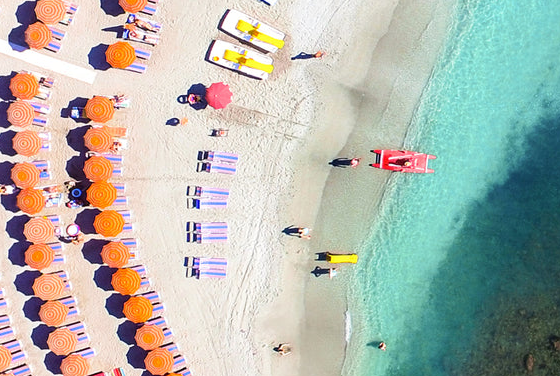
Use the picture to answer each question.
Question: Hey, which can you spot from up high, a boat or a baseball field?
boat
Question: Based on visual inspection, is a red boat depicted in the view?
Yes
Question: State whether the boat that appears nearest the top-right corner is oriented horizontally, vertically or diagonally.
horizontally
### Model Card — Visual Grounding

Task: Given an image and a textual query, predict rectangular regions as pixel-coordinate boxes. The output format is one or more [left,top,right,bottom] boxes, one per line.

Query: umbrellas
[106,39,137,68]
[47,327,77,358]
[84,155,113,183]
[86,181,116,210]
[35,0,65,26]
[85,96,114,125]
[11,129,41,158]
[18,187,47,217]
[13,160,42,189]
[111,266,140,295]
[135,322,165,352]
[38,300,68,329]
[93,209,123,238]
[34,274,64,303]
[123,293,152,323]
[6,100,36,129]
[26,241,55,270]
[59,352,89,376]
[118,0,147,16]
[83,125,112,154]
[22,21,53,51]
[24,214,54,243]
[9,71,39,100]
[203,81,231,109]
[100,239,130,270]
